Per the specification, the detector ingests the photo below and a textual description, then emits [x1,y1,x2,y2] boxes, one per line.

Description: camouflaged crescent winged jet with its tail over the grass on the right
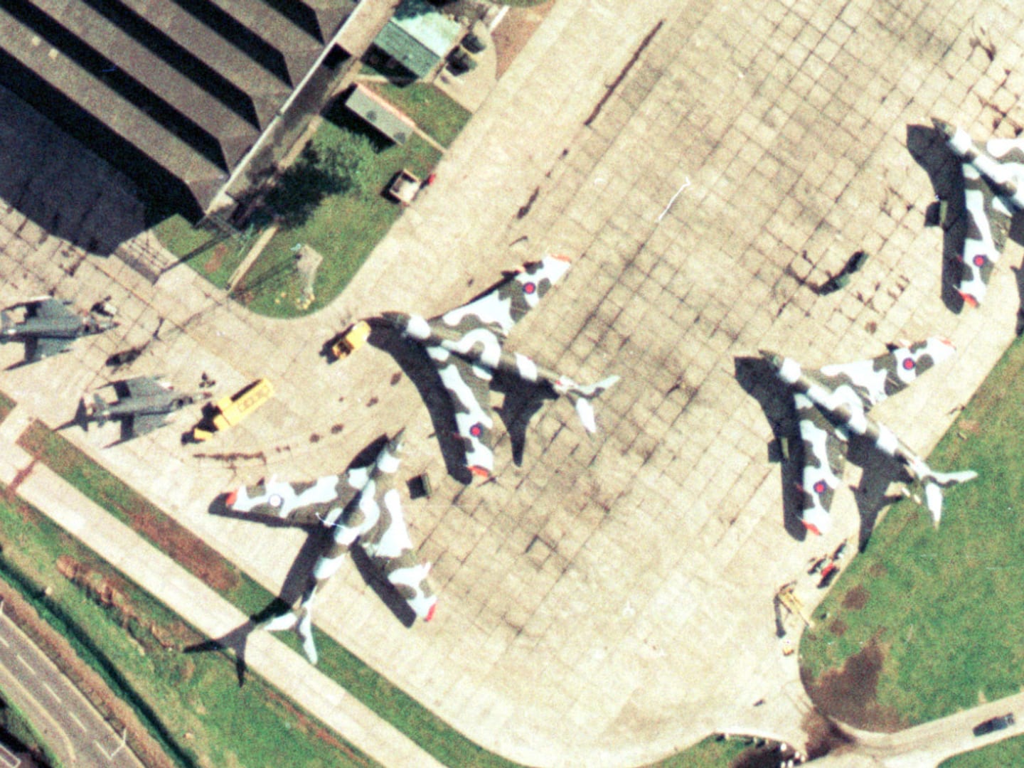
[756,330,980,534]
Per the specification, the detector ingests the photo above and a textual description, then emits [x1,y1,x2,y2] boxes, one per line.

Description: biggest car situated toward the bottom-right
[989,710,1017,729]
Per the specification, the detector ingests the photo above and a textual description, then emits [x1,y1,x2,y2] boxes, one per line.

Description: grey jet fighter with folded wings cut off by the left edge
[4,301,121,361]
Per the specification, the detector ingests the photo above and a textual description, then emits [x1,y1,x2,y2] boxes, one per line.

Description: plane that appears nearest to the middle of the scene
[381,250,624,476]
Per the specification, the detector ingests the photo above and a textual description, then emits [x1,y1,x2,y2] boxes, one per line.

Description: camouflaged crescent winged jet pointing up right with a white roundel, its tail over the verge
[226,426,447,663]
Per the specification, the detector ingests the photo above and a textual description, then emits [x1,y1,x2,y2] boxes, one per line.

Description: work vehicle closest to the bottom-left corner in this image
[191,424,213,439]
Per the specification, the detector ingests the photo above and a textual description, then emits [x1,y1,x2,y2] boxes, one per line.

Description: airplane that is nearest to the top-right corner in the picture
[929,116,1024,308]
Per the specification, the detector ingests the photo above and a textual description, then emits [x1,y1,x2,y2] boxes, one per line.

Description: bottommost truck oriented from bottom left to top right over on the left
[214,377,274,431]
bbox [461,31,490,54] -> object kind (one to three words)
car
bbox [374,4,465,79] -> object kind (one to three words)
shed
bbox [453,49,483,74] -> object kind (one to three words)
car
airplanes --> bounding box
[226,426,447,663]
[756,330,980,534]
[381,250,624,476]
[929,116,1024,308]
[4,301,121,361]
[97,380,213,442]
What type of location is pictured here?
airport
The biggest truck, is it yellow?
Yes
